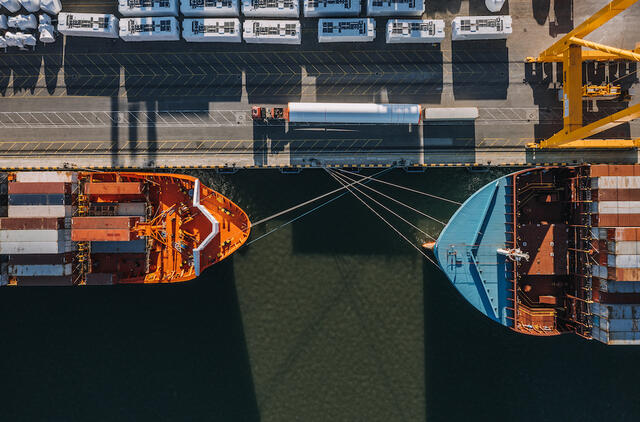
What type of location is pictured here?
port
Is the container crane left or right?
right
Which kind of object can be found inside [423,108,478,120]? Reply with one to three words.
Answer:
vehicle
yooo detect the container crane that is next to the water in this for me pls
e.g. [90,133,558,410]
[519,0,640,150]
